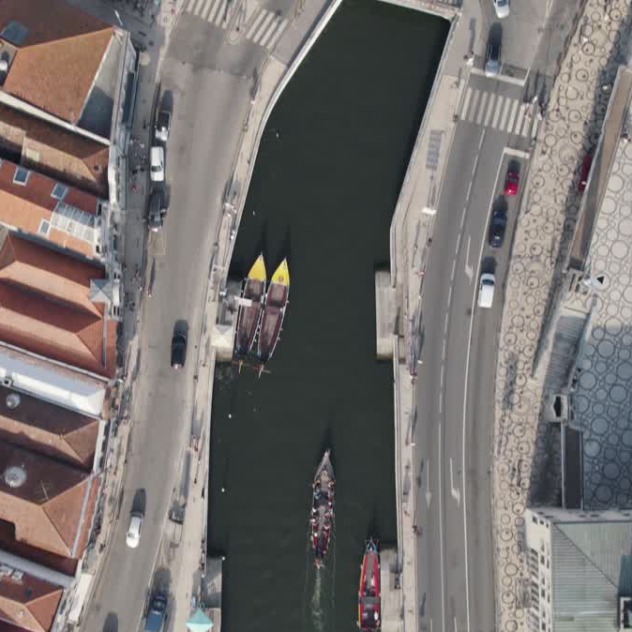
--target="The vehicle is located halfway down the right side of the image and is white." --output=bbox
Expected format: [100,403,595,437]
[477,272,496,308]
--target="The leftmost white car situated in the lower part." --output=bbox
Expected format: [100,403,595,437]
[127,511,143,543]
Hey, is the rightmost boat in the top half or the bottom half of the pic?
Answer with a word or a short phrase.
bottom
